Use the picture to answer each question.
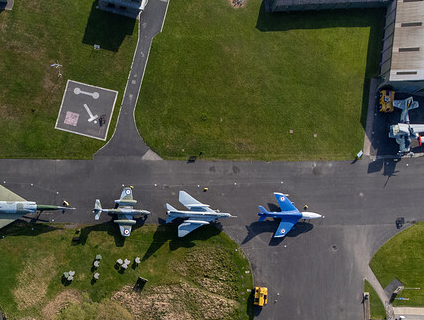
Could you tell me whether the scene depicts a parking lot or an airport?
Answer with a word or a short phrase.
airport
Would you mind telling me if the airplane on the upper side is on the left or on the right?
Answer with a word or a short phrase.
right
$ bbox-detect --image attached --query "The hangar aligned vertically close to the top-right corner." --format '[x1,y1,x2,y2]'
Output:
[377,0,424,110]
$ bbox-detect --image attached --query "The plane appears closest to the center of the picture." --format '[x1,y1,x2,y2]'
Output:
[165,190,237,236]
